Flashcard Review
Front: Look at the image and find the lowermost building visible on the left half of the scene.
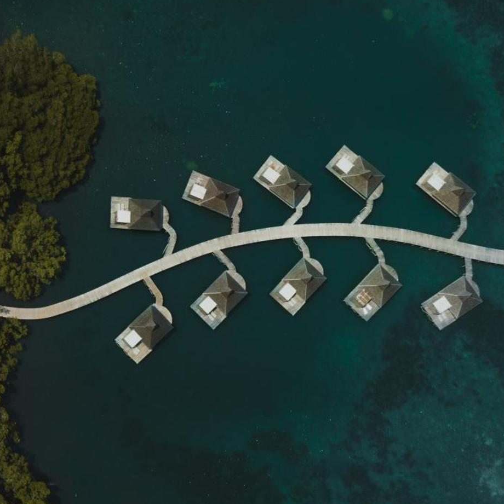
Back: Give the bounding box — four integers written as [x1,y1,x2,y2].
[114,303,174,363]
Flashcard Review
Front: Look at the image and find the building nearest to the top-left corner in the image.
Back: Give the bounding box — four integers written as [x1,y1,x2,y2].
[109,197,171,231]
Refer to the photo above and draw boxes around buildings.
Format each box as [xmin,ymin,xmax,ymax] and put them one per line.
[342,262,402,321]
[419,276,484,330]
[189,270,248,329]
[269,256,327,315]
[181,170,242,218]
[323,144,386,201]
[251,154,312,210]
[114,303,174,363]
[413,162,477,218]
[109,197,171,231]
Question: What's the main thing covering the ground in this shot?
water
